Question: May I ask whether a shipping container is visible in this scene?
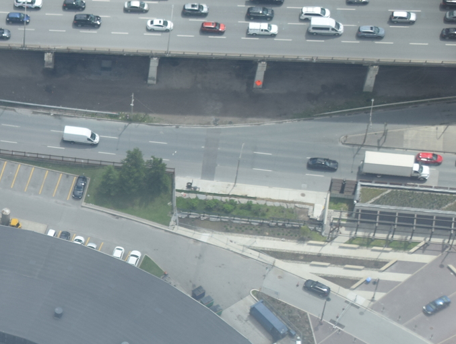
Yes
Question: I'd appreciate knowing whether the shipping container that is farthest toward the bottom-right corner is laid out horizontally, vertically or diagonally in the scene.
diagonally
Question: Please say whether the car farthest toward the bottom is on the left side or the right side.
right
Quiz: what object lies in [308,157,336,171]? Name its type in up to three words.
car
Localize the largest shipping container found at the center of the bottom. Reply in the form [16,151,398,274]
[244,293,290,340]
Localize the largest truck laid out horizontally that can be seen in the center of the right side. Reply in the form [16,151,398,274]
[362,151,426,179]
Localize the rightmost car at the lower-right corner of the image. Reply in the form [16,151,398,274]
[422,294,451,314]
